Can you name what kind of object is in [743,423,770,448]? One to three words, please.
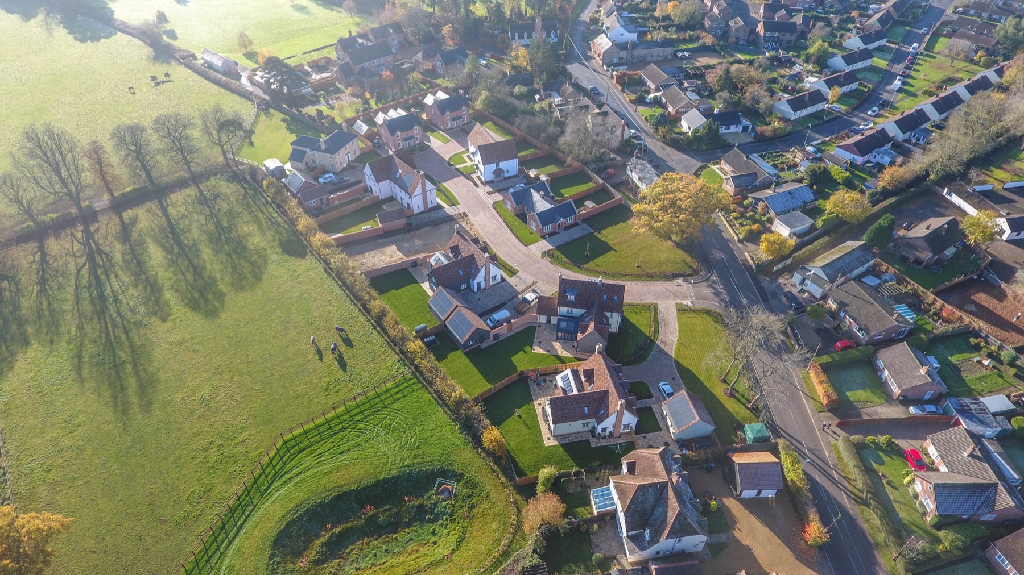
gazebo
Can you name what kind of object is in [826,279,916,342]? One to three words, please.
house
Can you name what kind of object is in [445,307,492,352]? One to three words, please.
building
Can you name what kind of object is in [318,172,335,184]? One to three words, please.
vehicle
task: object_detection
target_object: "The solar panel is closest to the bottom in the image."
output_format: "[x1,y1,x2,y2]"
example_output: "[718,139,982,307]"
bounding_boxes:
[666,395,695,429]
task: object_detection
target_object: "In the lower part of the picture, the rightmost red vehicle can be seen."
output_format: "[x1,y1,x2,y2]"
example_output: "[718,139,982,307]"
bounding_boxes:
[901,449,926,472]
